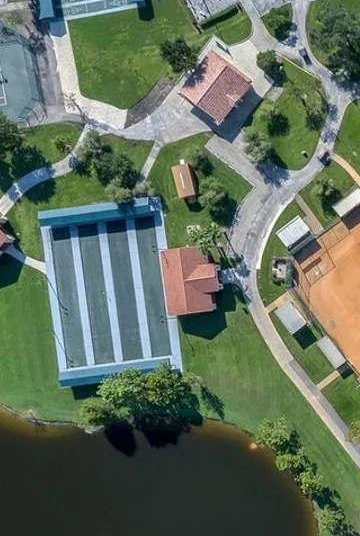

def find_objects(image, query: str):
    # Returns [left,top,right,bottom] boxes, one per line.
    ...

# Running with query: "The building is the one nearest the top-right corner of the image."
[180,52,252,124]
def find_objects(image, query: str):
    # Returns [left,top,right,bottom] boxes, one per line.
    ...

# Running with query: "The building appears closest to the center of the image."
[161,246,231,317]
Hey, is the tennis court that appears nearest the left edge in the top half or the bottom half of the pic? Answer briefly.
top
